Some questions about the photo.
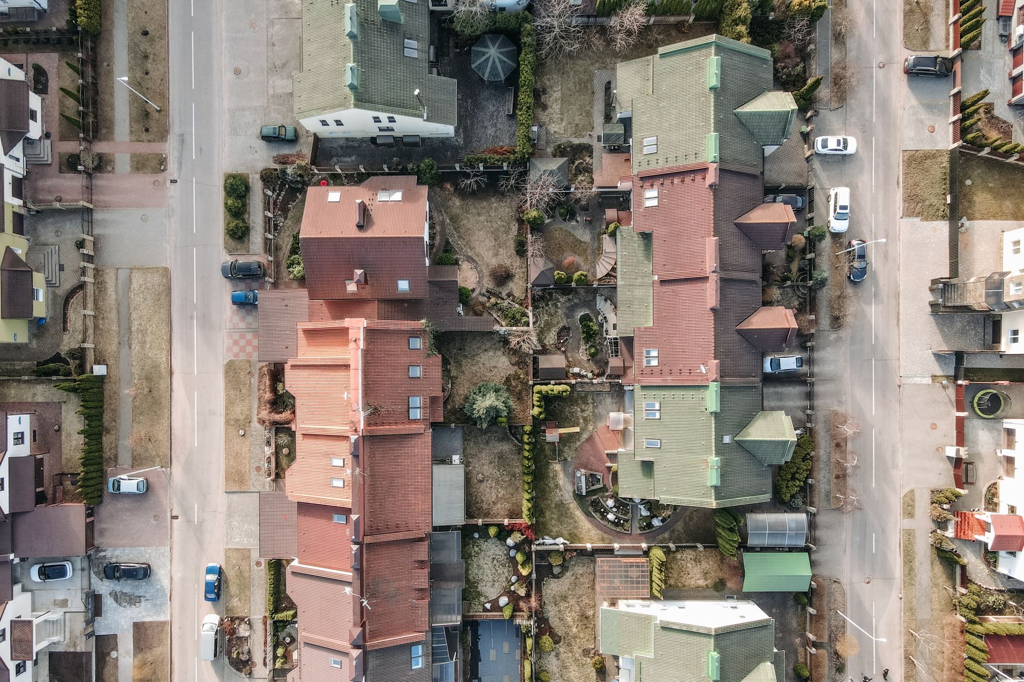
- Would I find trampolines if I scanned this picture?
Yes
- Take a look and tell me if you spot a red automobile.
No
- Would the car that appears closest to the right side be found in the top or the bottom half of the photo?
top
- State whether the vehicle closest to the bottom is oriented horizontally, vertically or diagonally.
vertically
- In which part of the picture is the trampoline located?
right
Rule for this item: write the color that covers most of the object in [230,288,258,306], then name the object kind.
blue car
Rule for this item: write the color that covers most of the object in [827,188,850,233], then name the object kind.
white car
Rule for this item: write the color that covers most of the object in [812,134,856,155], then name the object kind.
white car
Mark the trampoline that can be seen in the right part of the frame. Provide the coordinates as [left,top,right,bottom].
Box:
[974,388,1018,421]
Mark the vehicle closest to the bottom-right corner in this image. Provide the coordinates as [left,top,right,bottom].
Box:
[761,354,803,373]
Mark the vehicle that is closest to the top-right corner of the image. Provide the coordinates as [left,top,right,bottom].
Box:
[903,54,951,77]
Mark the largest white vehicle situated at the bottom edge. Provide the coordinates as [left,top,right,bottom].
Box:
[199,612,223,664]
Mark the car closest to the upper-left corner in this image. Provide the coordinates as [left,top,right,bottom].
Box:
[259,123,300,143]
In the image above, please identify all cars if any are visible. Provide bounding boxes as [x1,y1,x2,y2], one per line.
[846,238,868,282]
[762,192,806,212]
[827,188,850,233]
[203,562,223,602]
[259,123,300,143]
[106,560,153,582]
[812,134,856,155]
[109,476,150,495]
[222,259,267,280]
[761,354,803,373]
[903,54,951,77]
[230,288,258,306]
